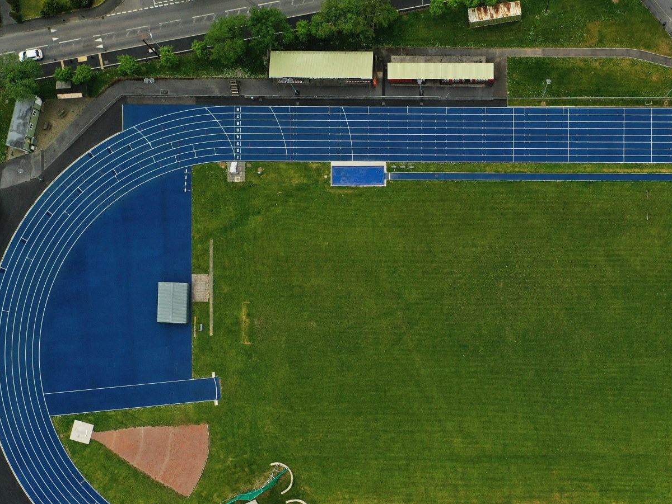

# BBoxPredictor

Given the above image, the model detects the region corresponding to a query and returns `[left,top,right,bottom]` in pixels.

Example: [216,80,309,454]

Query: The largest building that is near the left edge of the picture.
[5,94,44,152]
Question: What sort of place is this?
sports ground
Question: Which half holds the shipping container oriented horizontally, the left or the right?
right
